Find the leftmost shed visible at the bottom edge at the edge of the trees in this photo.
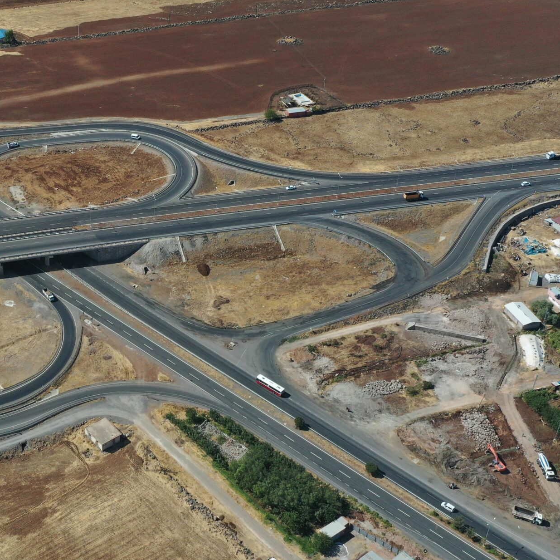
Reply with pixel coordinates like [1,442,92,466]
[320,515,345,543]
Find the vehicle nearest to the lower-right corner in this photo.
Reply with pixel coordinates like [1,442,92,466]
[515,508,543,524]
